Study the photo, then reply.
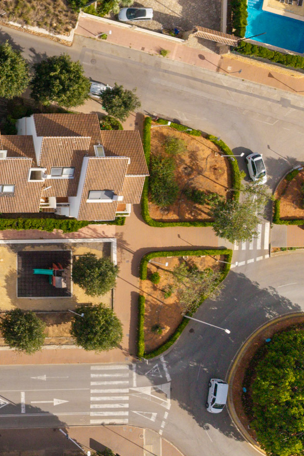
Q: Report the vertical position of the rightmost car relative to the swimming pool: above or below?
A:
below it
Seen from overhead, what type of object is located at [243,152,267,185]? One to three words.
car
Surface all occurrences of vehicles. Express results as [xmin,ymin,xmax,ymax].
[243,152,267,185]
[205,378,229,414]
[84,79,115,98]
[116,5,155,23]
